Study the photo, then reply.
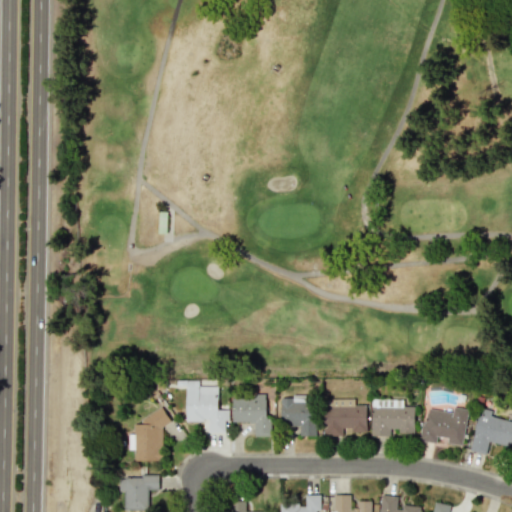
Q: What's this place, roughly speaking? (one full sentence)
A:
The picture captures a golf course.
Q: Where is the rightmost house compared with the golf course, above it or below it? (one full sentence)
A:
Relative to the golf course, the rightmost house lies below it.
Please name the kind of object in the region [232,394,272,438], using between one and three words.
house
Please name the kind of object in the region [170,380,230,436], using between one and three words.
house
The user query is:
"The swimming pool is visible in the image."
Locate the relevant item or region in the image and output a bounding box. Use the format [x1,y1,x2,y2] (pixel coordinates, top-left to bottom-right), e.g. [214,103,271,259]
[429,390,468,406]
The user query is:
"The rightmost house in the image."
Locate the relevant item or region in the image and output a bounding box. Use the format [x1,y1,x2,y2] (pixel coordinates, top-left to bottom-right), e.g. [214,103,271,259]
[473,414,512,454]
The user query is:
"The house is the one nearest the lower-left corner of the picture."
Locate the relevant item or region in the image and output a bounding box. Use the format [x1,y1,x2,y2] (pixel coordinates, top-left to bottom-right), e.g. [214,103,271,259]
[120,476,160,512]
